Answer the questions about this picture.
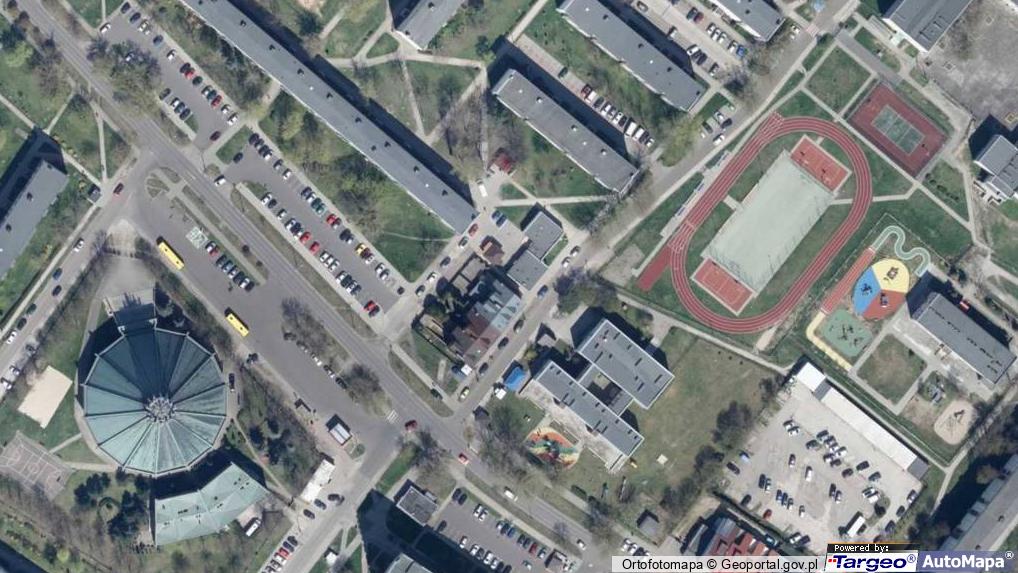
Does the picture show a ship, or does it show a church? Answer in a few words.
church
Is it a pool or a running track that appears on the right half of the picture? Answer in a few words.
running track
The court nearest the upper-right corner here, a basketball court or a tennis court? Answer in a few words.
tennis court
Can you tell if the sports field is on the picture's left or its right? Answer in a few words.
right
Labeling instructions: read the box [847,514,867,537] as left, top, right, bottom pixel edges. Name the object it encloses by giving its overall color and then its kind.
white vehicle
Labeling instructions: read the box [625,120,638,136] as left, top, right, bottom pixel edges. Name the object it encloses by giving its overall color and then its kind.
white vehicle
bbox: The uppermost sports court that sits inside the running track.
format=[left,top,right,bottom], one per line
[787,134,853,194]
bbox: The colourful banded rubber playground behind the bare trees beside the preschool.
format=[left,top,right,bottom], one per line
[523,424,583,473]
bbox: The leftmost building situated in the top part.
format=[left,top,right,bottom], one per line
[0,159,72,284]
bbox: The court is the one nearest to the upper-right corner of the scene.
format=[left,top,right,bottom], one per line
[848,82,948,178]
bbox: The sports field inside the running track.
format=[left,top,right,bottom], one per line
[703,150,833,297]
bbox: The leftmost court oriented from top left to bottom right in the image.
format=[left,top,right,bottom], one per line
[0,433,72,500]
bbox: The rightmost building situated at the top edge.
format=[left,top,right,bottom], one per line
[886,0,969,53]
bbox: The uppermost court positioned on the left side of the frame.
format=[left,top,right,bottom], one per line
[18,366,73,429]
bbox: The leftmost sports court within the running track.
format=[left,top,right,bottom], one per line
[690,255,756,315]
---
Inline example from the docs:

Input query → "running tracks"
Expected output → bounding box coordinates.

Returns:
[636,110,873,334]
